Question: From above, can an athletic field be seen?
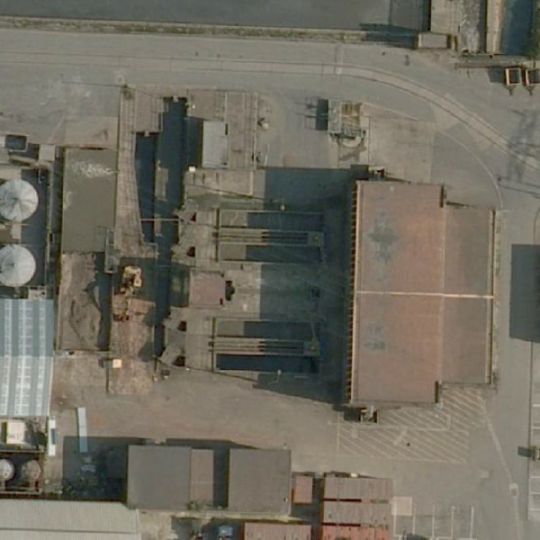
No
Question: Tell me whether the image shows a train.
No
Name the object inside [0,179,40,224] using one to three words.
storage tank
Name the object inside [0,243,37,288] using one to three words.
storage tank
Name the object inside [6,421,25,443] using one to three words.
shed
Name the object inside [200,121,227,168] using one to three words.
house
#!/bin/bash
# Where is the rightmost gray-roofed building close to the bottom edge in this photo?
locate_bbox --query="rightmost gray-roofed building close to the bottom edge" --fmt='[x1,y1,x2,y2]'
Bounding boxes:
[123,447,291,515]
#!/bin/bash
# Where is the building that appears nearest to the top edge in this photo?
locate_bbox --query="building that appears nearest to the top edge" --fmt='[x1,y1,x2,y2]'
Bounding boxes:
[416,34,448,49]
